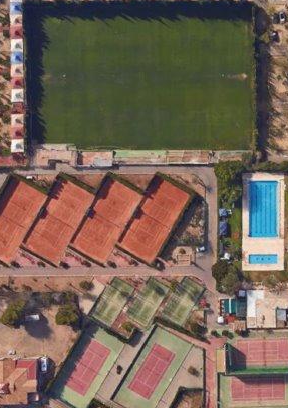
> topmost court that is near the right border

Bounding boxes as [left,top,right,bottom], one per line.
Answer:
[226,331,288,373]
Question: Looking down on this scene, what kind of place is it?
sports ground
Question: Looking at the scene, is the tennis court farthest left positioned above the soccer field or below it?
below it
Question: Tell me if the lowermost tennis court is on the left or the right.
right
